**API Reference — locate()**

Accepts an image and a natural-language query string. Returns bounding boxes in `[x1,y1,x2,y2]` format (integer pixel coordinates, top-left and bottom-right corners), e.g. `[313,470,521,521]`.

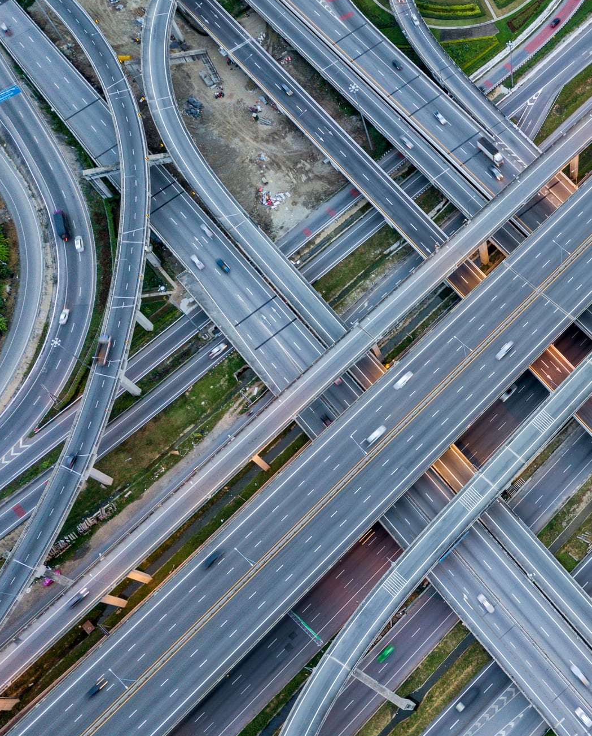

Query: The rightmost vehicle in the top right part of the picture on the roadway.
[549,14,562,28]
